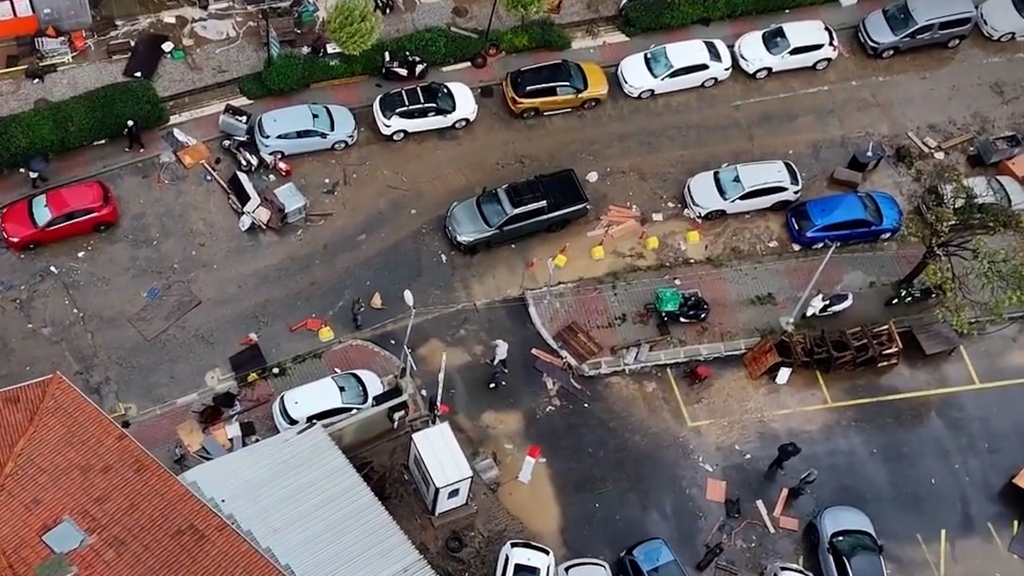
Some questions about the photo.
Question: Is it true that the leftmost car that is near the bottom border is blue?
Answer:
No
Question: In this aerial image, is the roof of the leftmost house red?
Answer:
Yes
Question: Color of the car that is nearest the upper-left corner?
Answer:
red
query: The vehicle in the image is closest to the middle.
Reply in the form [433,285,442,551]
[439,165,591,253]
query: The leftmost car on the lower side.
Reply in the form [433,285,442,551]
[268,364,387,434]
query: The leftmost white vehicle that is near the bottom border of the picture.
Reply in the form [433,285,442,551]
[493,537,556,576]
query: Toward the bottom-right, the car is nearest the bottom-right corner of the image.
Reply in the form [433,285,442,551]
[812,506,888,576]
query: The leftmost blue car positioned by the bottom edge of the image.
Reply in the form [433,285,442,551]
[619,535,690,576]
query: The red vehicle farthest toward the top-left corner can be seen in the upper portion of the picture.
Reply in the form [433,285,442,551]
[0,176,121,251]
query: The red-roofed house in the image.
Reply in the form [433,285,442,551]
[0,370,295,576]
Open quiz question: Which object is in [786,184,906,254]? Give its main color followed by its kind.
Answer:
blue car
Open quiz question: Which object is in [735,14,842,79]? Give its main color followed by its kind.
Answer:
white car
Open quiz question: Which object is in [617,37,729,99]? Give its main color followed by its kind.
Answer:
white car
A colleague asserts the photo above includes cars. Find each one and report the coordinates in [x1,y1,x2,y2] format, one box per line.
[268,364,387,434]
[786,184,906,254]
[617,37,729,99]
[371,73,480,141]
[735,14,842,79]
[0,176,121,251]
[684,153,806,221]
[493,537,556,576]
[812,506,888,576]
[251,96,358,162]
[856,0,979,59]
[501,53,610,120]
[558,555,617,576]
[977,0,1024,42]
[619,535,690,576]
